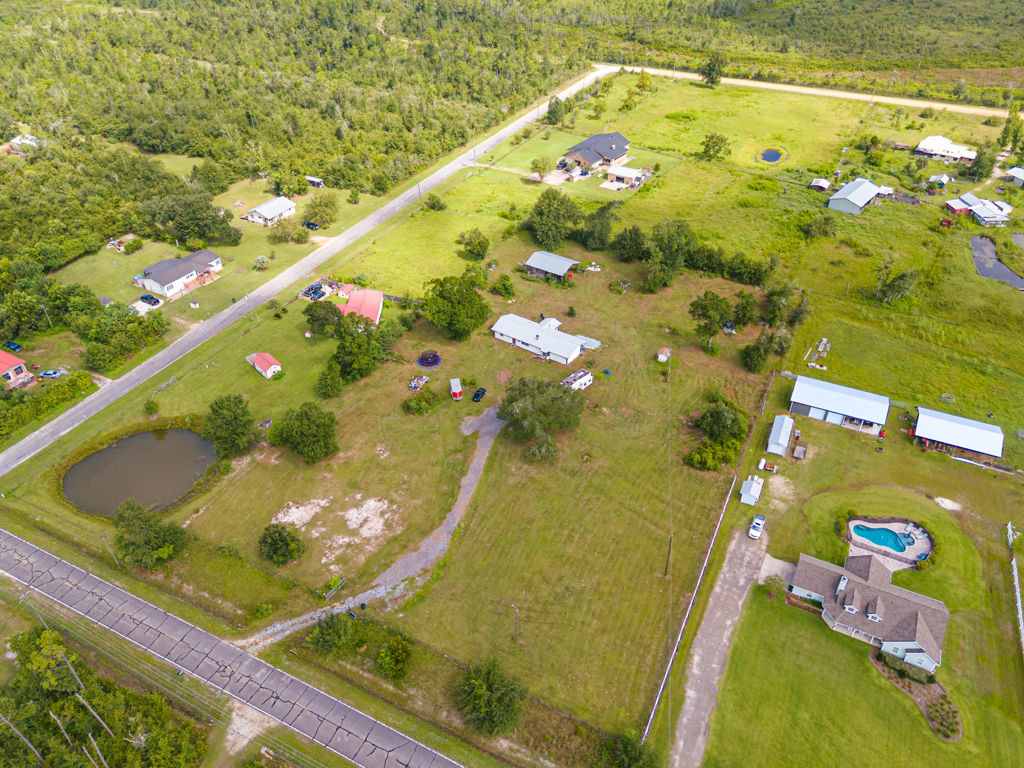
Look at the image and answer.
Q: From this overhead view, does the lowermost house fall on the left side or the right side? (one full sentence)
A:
The lowermost house appears in the right half of the scene.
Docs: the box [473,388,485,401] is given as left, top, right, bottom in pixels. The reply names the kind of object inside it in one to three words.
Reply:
vehicle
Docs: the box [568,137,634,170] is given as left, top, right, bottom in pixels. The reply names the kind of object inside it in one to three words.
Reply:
house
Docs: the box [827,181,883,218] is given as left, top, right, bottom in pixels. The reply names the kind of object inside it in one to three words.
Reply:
barn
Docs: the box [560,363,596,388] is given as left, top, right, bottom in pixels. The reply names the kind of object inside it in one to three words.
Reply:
camper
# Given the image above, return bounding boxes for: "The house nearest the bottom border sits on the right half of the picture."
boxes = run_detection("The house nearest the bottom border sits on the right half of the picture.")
[784,553,949,672]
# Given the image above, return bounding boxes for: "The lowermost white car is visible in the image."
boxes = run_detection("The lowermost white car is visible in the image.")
[750,513,765,537]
